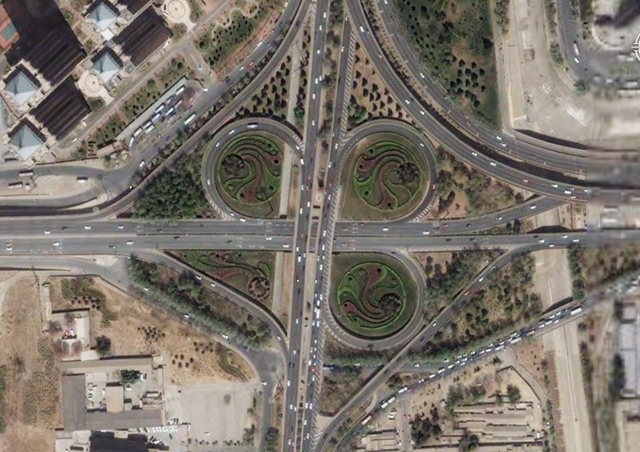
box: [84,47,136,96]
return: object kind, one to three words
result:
building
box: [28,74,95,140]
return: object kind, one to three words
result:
building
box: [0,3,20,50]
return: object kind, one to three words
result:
sports court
